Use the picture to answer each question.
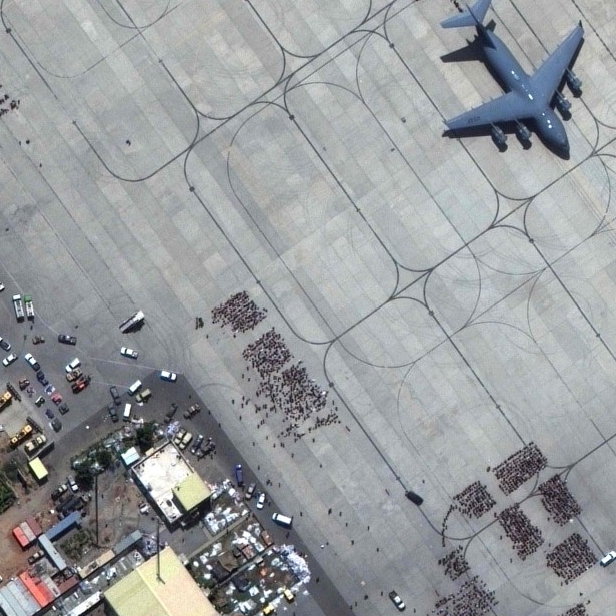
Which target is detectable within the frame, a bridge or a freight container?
freight container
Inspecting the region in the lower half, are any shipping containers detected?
Yes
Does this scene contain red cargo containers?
Yes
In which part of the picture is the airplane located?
top right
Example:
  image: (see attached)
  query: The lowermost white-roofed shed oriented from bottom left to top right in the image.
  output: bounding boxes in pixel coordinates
[63,591,103,616]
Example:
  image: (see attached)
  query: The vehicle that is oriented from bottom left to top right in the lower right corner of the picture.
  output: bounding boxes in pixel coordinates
[600,552,616,565]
